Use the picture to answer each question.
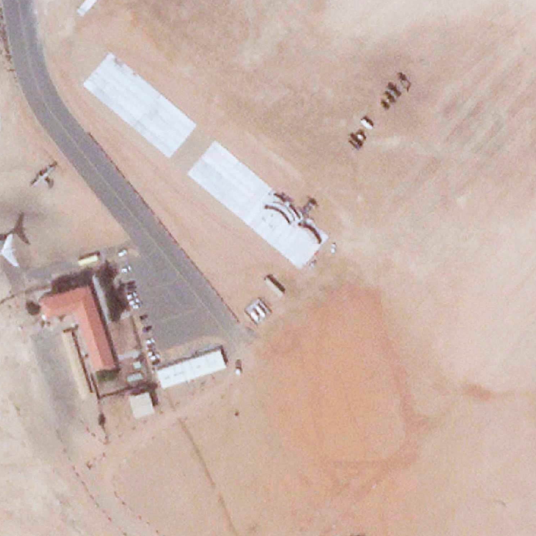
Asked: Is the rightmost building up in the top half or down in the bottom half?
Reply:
bottom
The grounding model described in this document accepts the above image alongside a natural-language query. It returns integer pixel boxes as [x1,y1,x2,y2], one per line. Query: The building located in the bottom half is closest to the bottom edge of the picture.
[130,389,155,419]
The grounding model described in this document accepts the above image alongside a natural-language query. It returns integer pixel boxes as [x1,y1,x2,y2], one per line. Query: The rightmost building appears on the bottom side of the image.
[157,348,225,389]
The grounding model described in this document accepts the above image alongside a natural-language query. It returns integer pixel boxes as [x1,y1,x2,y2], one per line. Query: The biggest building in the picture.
[40,287,117,373]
